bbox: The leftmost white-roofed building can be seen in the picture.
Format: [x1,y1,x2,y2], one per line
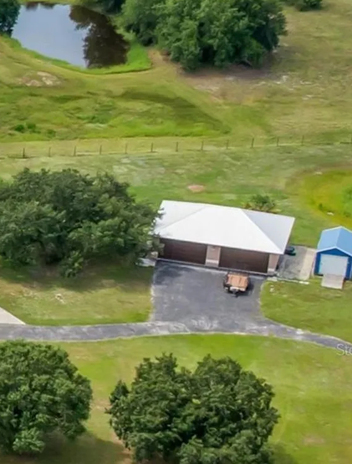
[150,201,296,275]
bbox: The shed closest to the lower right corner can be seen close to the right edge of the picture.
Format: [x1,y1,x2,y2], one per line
[314,231,352,286]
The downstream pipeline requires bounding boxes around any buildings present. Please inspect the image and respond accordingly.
[150,201,296,275]
[314,231,352,286]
